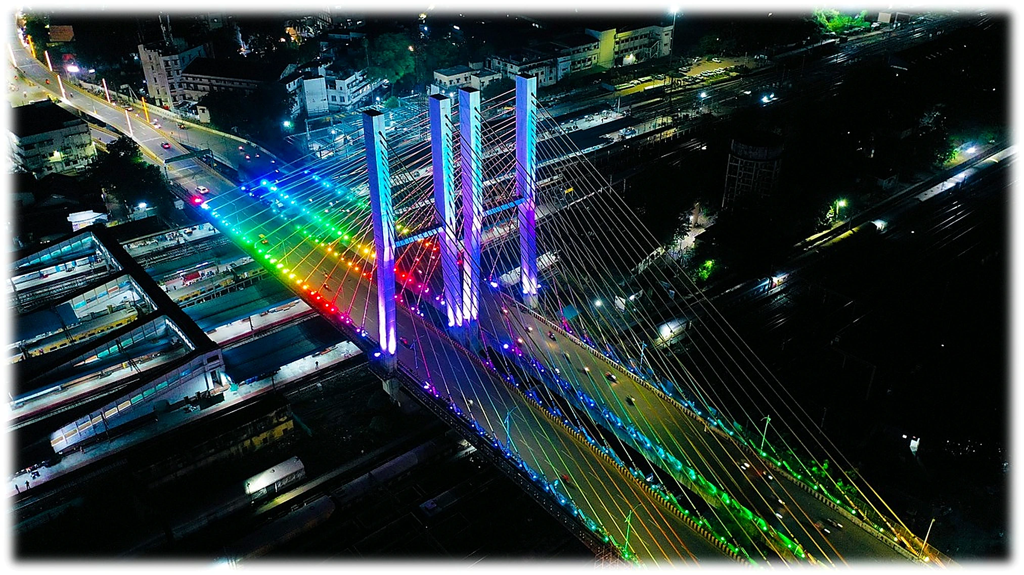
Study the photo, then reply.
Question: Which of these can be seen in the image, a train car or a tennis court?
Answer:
train car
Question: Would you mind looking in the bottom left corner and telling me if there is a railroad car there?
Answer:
Yes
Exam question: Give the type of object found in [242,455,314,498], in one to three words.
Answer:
rail car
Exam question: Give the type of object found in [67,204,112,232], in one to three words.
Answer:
building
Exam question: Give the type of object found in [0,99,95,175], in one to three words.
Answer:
building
